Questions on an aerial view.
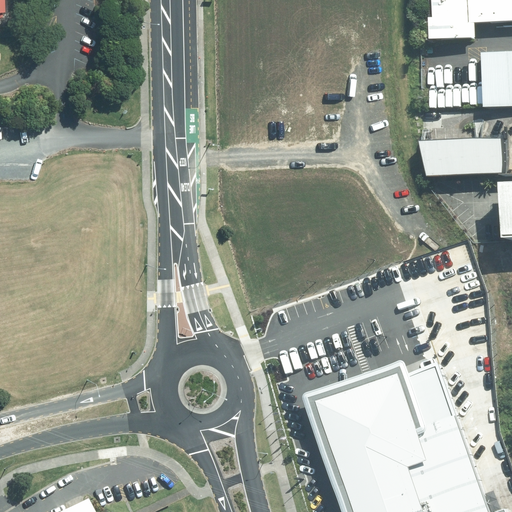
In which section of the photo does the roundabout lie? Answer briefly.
bottom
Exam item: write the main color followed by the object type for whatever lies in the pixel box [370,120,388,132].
white vehicle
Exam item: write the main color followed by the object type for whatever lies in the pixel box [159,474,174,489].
blue vehicle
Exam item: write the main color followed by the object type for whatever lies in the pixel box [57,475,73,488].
white vehicle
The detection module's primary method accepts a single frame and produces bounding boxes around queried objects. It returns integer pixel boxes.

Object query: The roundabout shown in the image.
[160,346,246,432]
